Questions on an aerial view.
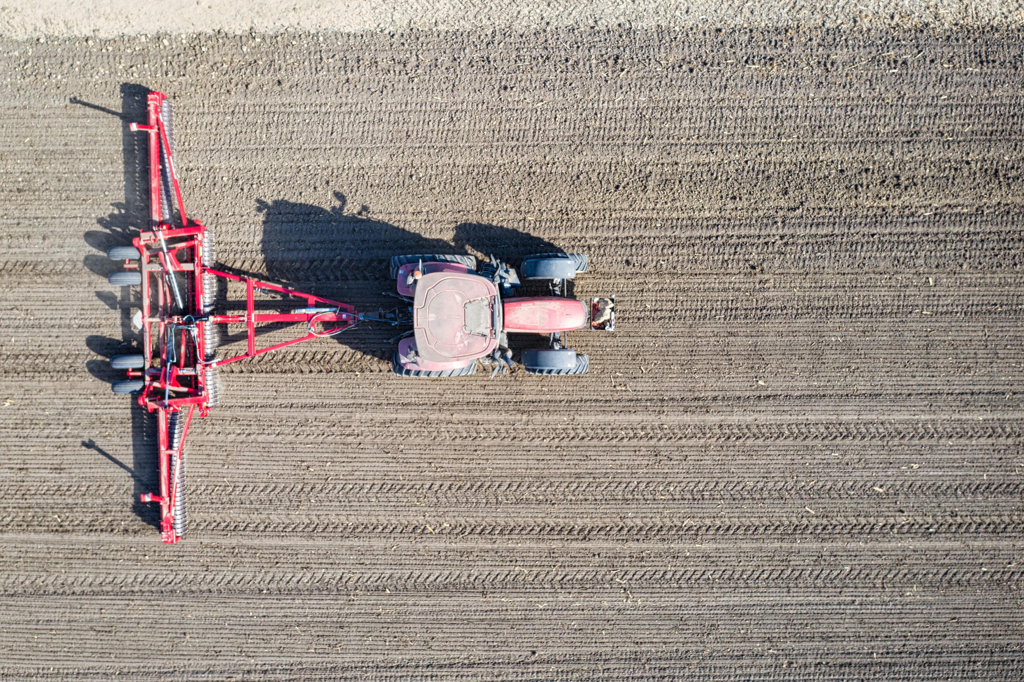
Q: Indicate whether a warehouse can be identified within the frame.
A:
No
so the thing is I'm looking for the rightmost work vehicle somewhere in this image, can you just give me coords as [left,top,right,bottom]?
[364,250,614,380]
